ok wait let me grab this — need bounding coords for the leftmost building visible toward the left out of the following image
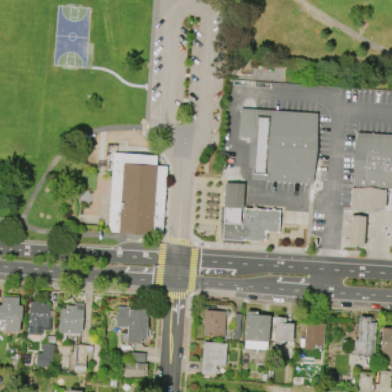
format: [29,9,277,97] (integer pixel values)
[0,294,24,334]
